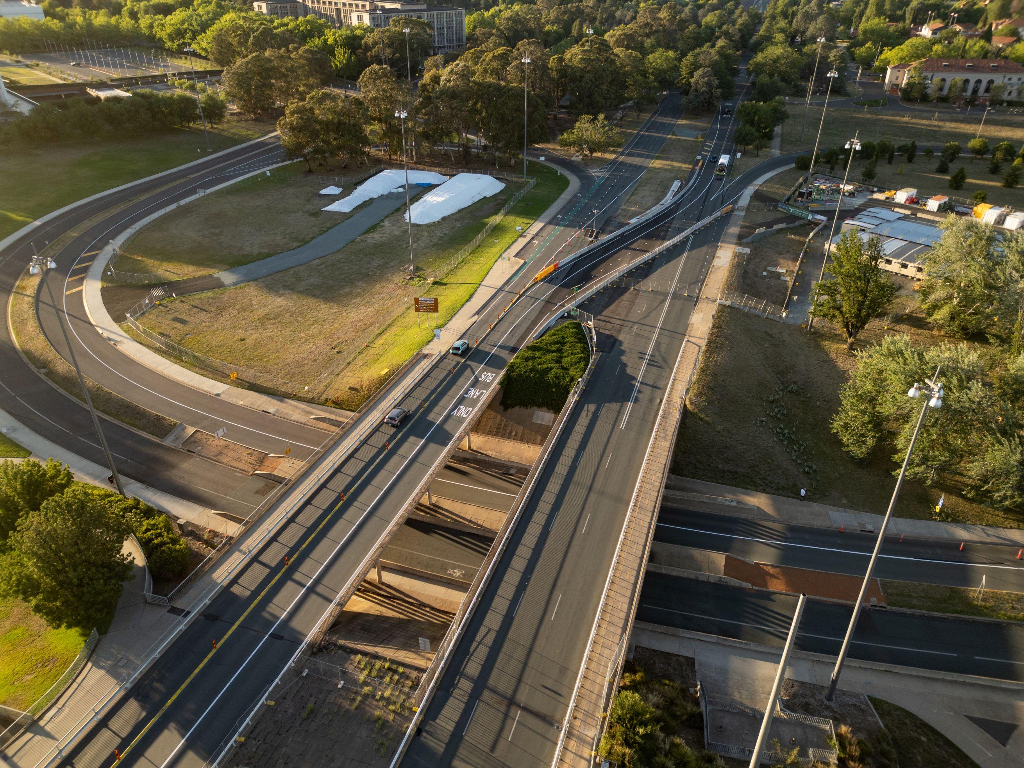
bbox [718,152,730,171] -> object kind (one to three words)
vehicle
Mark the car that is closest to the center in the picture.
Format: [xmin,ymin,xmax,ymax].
[451,340,471,355]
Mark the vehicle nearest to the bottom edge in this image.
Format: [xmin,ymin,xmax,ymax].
[383,405,411,427]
